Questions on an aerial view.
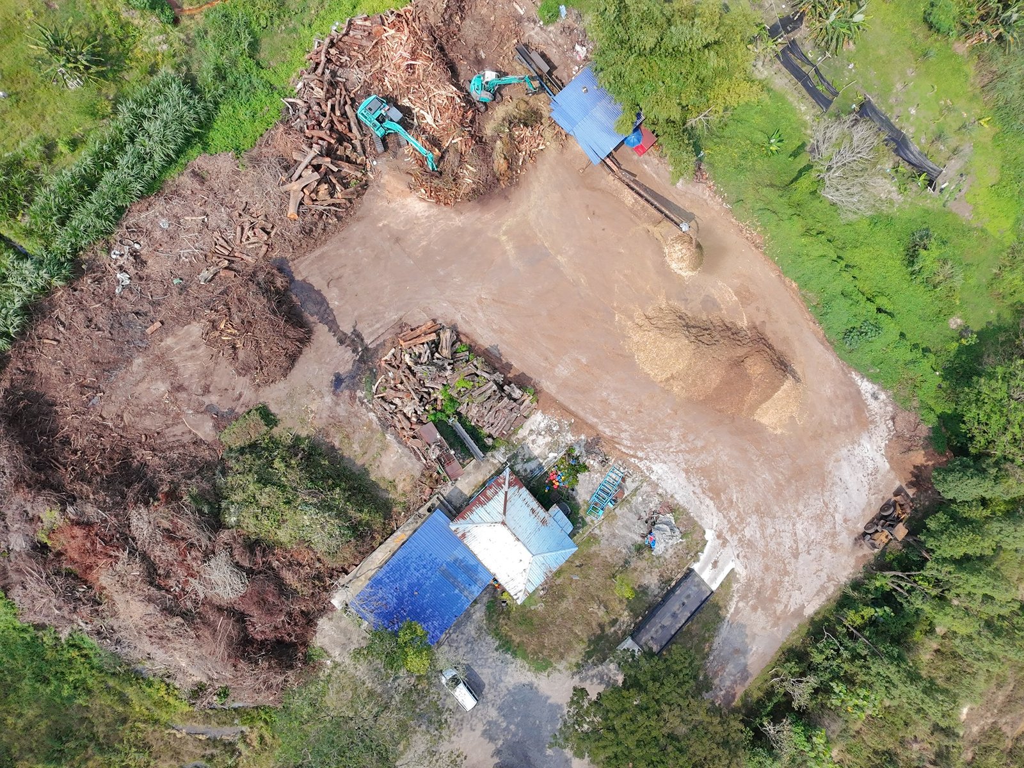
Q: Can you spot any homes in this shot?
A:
Yes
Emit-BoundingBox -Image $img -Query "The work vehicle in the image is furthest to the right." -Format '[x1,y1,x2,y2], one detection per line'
[853,486,919,558]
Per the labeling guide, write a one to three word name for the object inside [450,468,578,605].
house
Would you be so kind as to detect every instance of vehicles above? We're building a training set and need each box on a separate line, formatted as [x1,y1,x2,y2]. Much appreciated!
[354,99,442,179]
[442,662,479,713]
[853,486,919,558]
[466,65,541,111]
